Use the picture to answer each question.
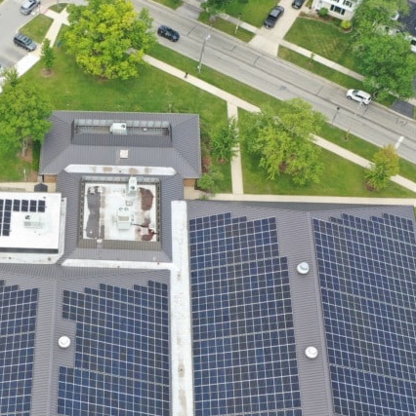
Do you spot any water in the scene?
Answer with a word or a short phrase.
No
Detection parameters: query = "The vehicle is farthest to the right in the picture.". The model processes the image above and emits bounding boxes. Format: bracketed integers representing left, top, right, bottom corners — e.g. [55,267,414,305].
[345,89,372,105]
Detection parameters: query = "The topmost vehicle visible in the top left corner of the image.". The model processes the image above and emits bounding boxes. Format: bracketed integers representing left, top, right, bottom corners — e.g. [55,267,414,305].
[18,0,41,15]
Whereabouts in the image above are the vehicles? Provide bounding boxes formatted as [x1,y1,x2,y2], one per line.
[291,0,306,11]
[265,3,284,30]
[12,30,37,51]
[18,0,41,15]
[345,89,372,105]
[154,23,181,42]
